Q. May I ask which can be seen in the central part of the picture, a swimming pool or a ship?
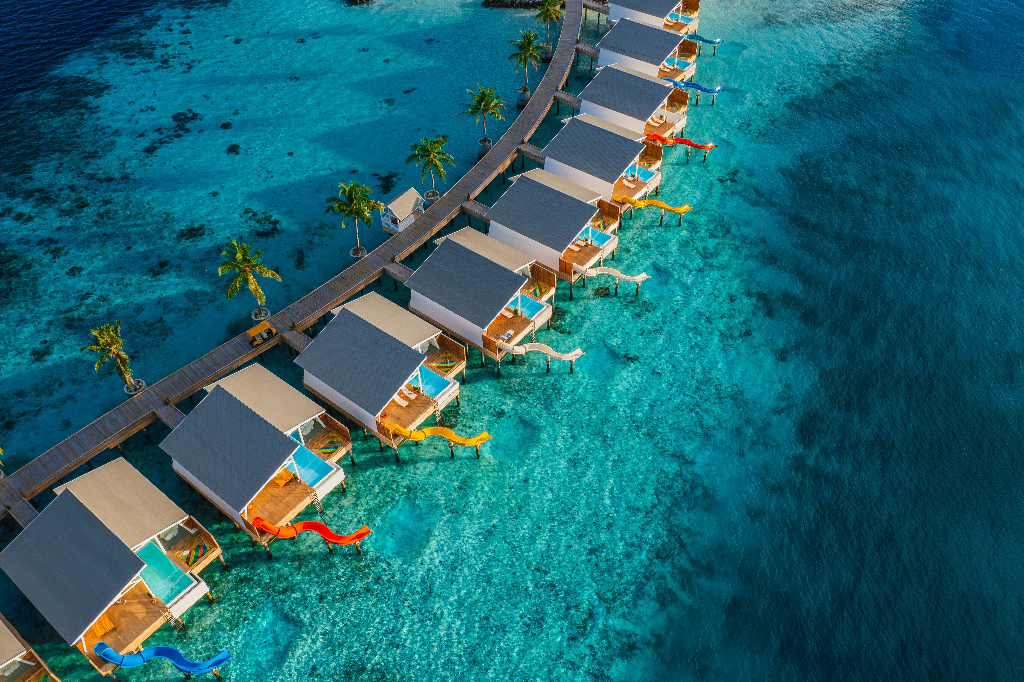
swimming pool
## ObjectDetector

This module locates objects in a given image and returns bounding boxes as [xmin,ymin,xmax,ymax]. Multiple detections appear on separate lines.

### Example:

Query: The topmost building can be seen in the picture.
[606,0,701,42]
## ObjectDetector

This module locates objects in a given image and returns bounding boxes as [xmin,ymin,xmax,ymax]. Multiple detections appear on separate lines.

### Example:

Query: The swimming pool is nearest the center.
[507,293,544,318]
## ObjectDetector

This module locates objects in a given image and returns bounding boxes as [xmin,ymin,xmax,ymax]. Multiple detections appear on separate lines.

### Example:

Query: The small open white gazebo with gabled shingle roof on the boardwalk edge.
[377,184,426,238]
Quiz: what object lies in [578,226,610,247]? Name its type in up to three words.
swimming pool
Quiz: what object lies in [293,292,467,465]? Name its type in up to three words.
house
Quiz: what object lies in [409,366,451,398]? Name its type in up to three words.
swimming pool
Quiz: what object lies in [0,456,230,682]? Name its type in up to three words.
house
